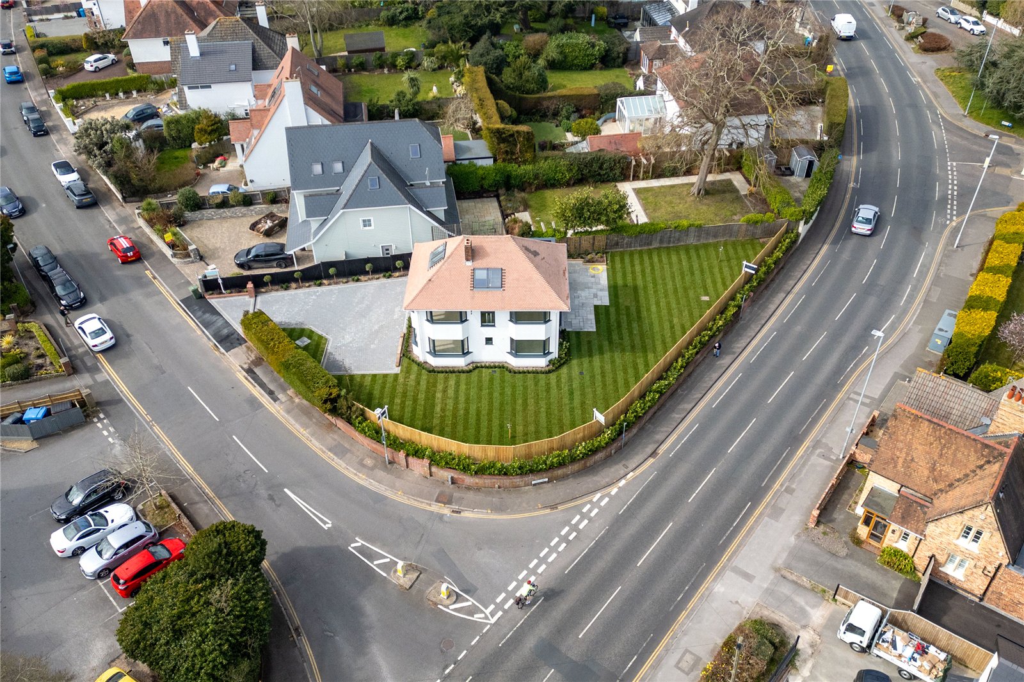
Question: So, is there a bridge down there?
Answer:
No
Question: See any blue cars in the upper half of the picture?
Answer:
Yes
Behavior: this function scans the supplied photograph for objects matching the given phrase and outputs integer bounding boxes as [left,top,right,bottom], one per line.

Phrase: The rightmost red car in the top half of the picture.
[110,237,140,266]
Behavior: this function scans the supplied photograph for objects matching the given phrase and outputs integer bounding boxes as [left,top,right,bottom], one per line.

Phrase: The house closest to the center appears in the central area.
[403,229,572,366]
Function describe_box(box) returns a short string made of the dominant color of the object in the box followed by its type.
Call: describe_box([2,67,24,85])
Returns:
blue car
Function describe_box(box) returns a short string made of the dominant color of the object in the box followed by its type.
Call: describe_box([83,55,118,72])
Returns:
white car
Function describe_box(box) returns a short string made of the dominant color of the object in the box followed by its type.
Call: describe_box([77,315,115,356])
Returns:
white car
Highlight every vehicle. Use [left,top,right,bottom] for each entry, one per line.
[77,315,115,356]
[847,602,947,682]
[27,239,63,279]
[110,237,140,266]
[199,181,247,202]
[64,181,96,209]
[931,7,958,24]
[0,39,16,56]
[48,468,136,529]
[0,183,27,218]
[79,520,161,583]
[122,101,162,122]
[50,159,81,187]
[233,242,294,268]
[17,96,39,123]
[0,0,13,12]
[831,16,857,44]
[26,113,51,138]
[851,206,880,238]
[47,266,88,309]
[47,503,139,566]
[106,539,192,602]
[2,67,24,85]
[954,14,985,35]
[83,55,118,72]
